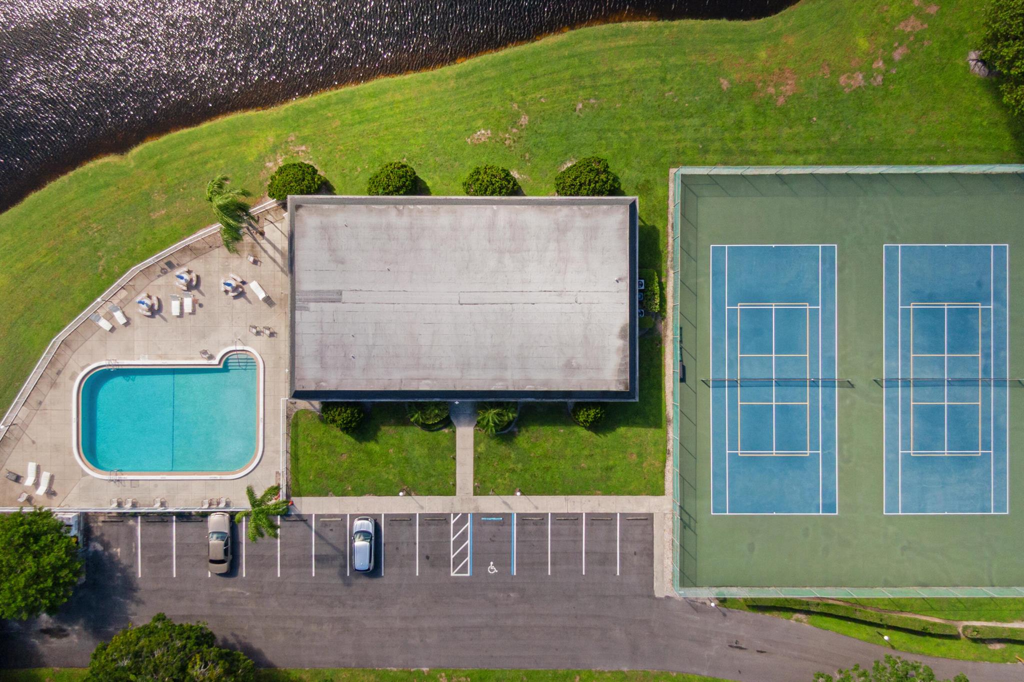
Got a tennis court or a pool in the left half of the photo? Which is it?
pool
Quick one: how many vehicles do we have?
2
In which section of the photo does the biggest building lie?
center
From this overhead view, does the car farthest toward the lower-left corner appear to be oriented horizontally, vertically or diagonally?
vertically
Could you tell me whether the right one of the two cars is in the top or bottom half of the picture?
bottom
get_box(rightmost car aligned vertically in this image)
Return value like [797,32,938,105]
[350,516,377,573]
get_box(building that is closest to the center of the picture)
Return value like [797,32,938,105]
[288,195,639,401]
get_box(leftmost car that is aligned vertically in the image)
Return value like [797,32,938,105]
[205,514,232,574]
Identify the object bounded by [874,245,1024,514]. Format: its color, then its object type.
blue tennis court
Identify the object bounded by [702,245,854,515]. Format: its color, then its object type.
blue tennis court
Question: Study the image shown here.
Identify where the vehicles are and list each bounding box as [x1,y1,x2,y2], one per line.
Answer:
[205,514,232,574]
[350,516,377,573]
